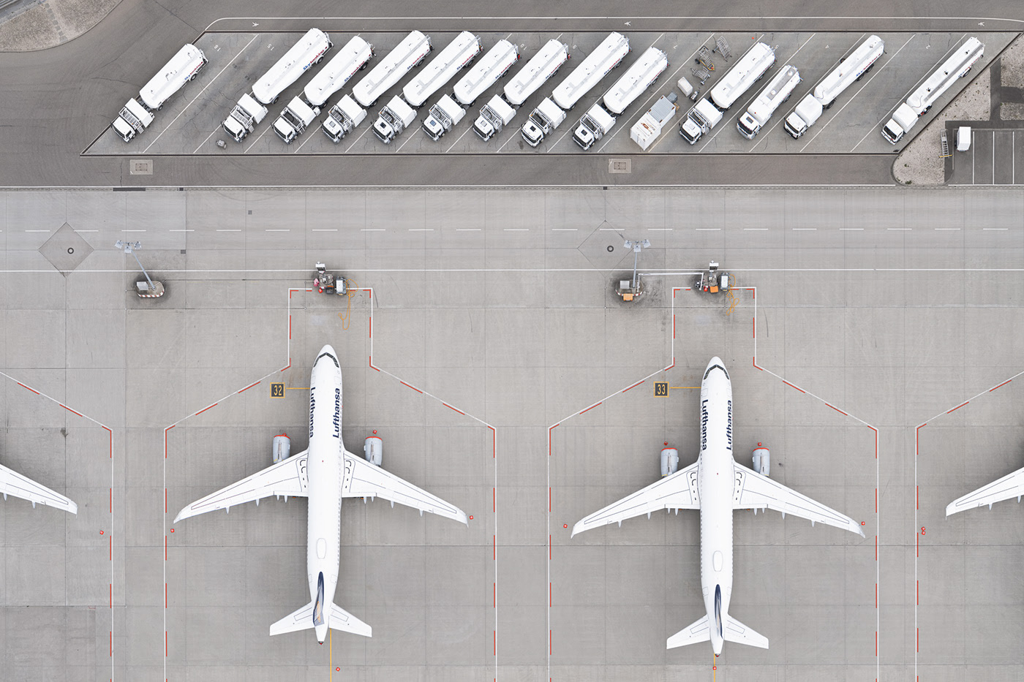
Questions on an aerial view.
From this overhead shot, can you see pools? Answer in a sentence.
No, the picture doesn't show any pool.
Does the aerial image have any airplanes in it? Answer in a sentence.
Yes, the photo shows an airplane.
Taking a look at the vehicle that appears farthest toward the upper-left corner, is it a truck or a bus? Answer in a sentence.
Specifically, the vehicle that appears farthest toward the upper-left corner is a truck.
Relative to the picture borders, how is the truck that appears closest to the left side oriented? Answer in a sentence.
The truck that appears closest to the left side has been laid out at an angle relative to the frame.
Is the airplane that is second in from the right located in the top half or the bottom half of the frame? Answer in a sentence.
The bottom half of the photo is where the airplane that is second in from the right is.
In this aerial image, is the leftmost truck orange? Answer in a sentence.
No, the color of the leftmost truck is white.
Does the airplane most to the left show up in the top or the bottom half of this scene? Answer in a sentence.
The bottom half of the photo is where the airplane most to the left is.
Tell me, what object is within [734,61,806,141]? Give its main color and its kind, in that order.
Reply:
white truck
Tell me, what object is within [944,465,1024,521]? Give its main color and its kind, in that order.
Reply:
white airplane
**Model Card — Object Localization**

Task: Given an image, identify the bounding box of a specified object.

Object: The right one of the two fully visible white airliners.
[572,356,866,659]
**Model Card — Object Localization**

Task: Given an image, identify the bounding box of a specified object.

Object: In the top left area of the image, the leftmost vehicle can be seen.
[107,44,205,144]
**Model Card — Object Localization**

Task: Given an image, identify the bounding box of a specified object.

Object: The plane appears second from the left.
[173,344,467,647]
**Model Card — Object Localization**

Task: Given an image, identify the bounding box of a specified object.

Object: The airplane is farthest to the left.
[0,465,78,519]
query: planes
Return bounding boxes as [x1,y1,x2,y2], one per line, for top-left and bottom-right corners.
[173,344,467,647]
[0,465,78,519]
[572,356,866,659]
[944,465,1024,521]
